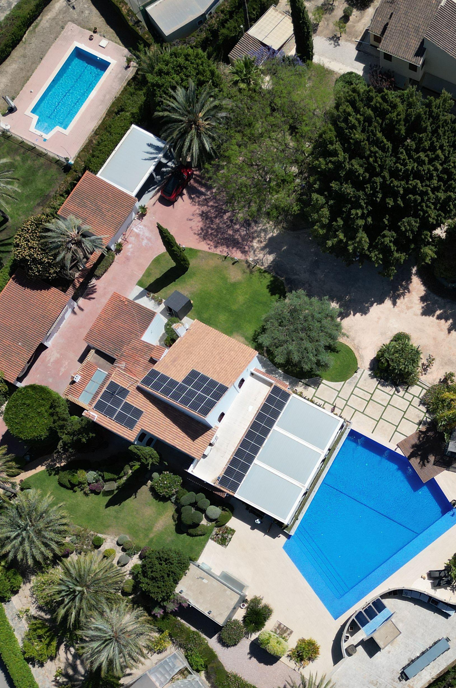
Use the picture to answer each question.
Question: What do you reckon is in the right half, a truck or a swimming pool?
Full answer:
It is a swimming pool that can be seen in the right half.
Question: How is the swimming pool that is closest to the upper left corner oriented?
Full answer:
In this picture, the swimming pool that is closest to the upper left corner is oriented diagonally.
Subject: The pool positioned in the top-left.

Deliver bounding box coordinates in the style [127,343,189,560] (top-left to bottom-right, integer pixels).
[31,46,110,134]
